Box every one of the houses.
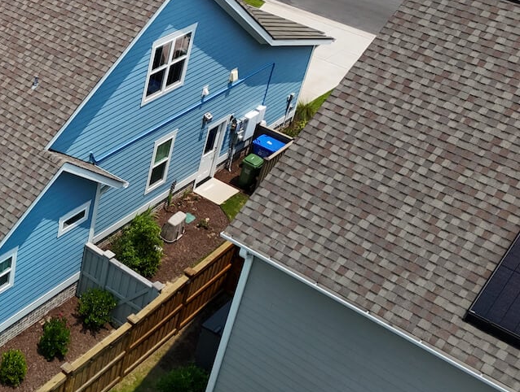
[0,0,335,345]
[204,0,520,392]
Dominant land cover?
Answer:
buildings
